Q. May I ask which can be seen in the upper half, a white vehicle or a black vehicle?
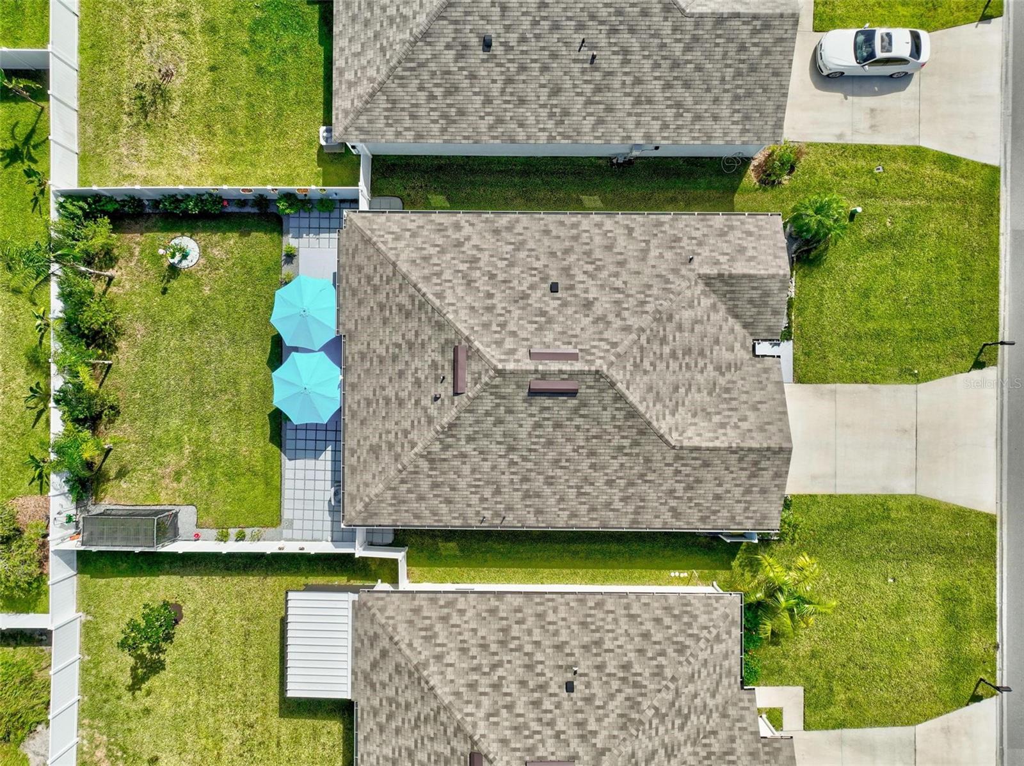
white vehicle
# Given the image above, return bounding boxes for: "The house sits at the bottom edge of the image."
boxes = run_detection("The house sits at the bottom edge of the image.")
[349,577,795,766]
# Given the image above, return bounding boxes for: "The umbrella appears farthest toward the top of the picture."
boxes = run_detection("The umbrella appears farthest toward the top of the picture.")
[270,276,339,351]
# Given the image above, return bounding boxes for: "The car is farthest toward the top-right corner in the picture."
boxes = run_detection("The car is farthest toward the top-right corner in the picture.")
[815,20,930,80]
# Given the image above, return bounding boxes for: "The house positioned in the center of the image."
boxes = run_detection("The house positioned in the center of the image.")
[335,209,794,531]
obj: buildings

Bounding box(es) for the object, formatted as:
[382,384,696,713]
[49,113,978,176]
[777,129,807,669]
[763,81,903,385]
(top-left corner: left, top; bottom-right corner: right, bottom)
[335,209,794,531]
[330,0,802,161]
[349,577,795,766]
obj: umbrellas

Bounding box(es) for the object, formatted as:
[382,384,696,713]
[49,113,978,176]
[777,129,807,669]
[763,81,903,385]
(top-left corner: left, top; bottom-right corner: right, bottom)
[274,353,342,424]
[270,276,339,351]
